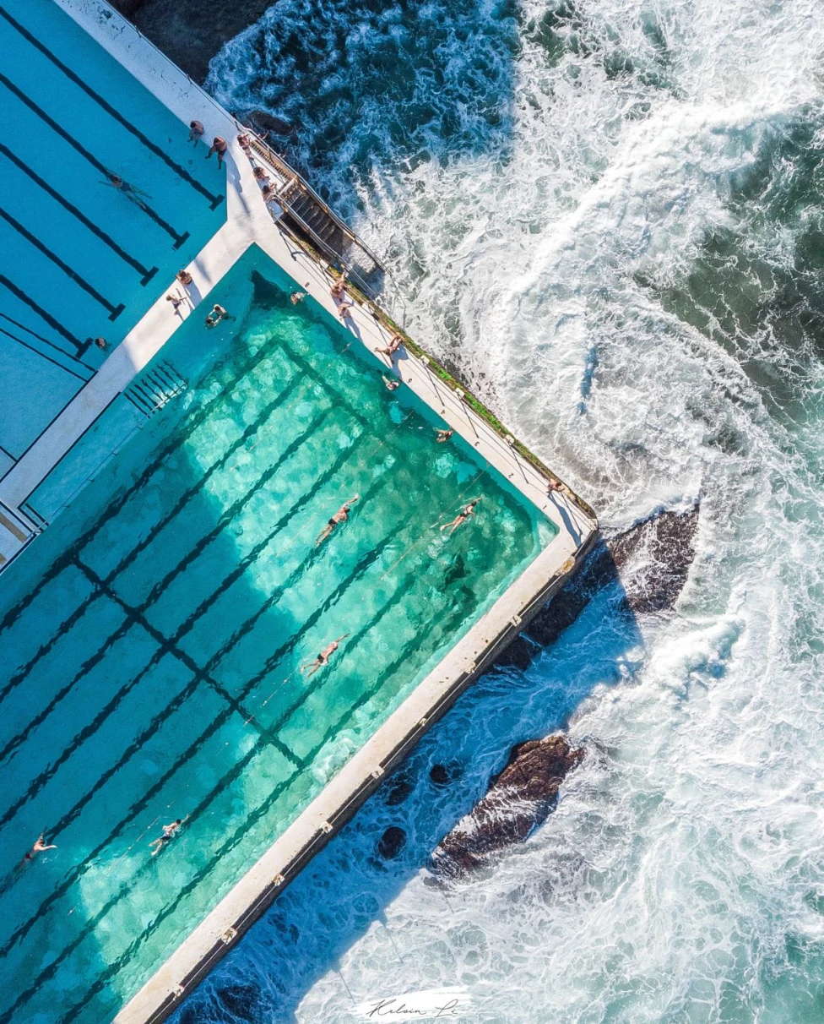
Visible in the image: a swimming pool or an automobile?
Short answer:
swimming pool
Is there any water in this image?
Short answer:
Yes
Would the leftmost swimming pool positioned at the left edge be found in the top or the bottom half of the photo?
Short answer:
top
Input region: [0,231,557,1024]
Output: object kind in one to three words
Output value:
swimming pool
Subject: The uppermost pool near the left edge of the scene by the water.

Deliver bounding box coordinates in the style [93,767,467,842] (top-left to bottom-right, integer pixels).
[0,0,228,484]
